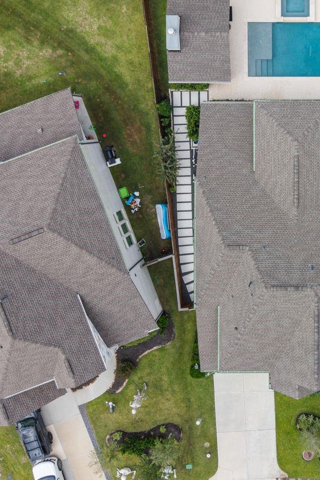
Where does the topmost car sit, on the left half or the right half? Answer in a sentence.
You can find the topmost car on the left side of the picture.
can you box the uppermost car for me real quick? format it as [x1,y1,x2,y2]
[12,408,56,465]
